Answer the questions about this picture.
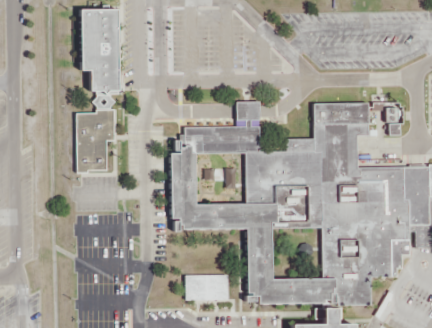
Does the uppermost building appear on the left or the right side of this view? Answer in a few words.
left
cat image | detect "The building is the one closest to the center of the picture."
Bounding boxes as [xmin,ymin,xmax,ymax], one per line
[202,168,236,188]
